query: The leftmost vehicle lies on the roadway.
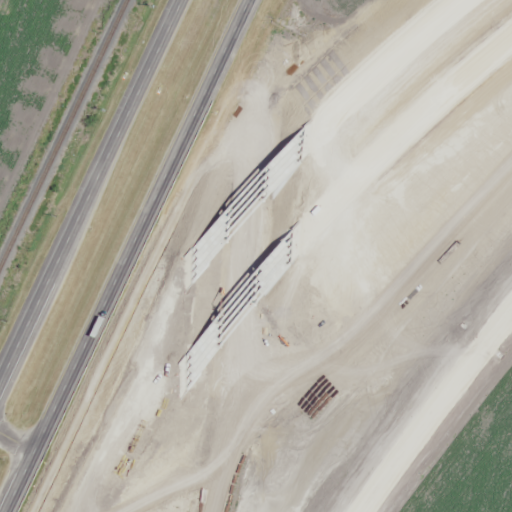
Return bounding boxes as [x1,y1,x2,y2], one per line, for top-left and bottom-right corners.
[90,308,106,338]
